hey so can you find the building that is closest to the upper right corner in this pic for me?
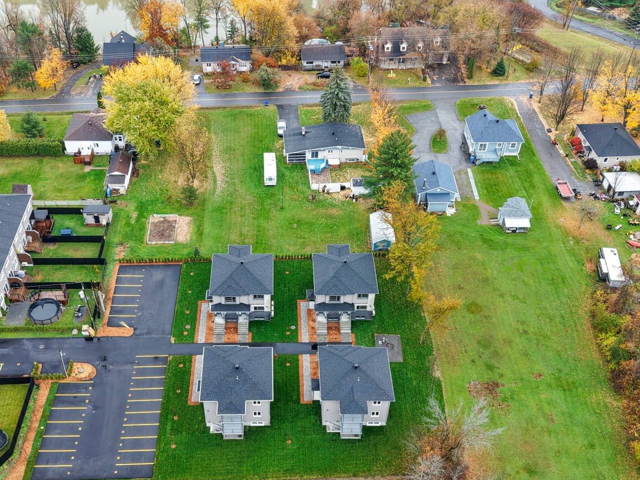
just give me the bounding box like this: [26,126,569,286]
[574,122,640,167]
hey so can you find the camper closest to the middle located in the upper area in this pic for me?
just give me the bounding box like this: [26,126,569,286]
[264,155,276,187]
